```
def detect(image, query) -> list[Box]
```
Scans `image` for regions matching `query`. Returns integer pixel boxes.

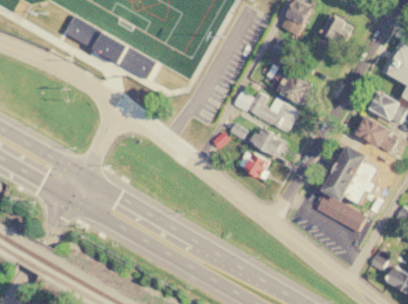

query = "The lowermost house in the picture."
[384,266,408,288]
